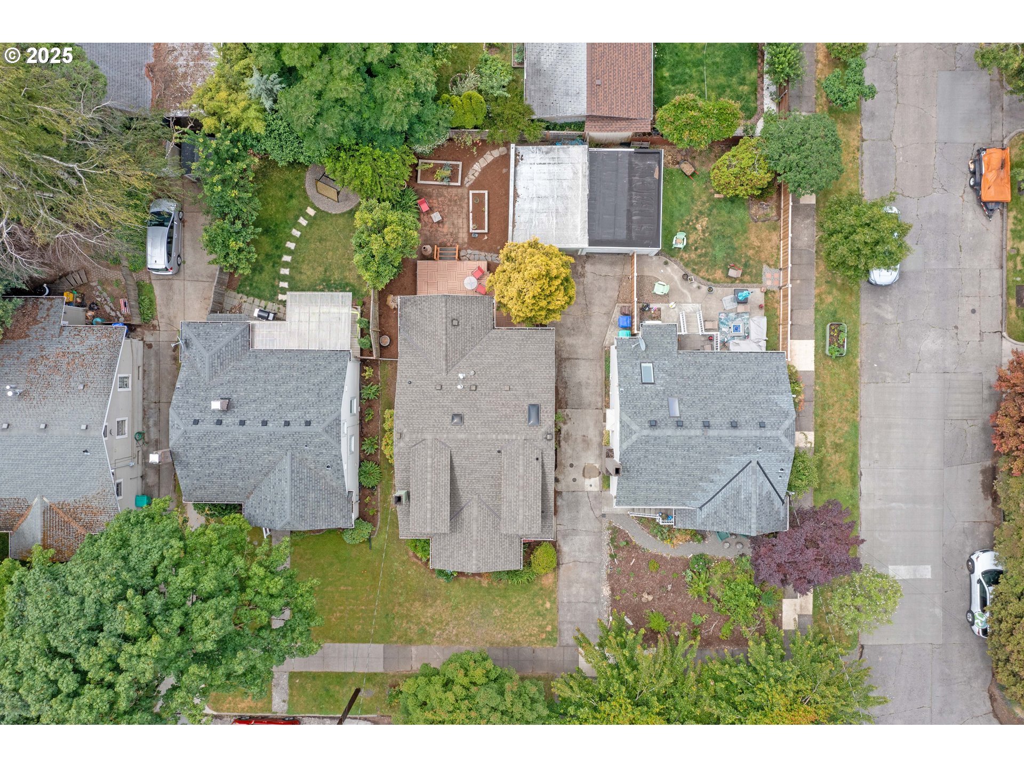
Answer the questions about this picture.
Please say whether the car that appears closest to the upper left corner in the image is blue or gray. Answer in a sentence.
The color of the car that appears closest to the upper left corner is gray.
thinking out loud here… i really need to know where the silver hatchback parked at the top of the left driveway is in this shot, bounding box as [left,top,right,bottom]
[145,199,183,273]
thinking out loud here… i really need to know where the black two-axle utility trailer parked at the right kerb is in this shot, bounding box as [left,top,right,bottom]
[961,143,1011,231]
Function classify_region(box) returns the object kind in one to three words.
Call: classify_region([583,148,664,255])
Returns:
building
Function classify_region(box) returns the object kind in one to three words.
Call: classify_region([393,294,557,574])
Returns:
house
